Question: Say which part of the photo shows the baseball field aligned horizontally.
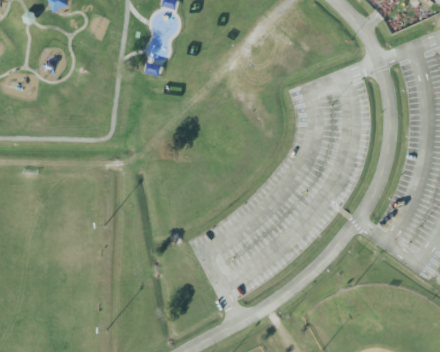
bottom right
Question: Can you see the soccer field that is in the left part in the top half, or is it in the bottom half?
bottom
